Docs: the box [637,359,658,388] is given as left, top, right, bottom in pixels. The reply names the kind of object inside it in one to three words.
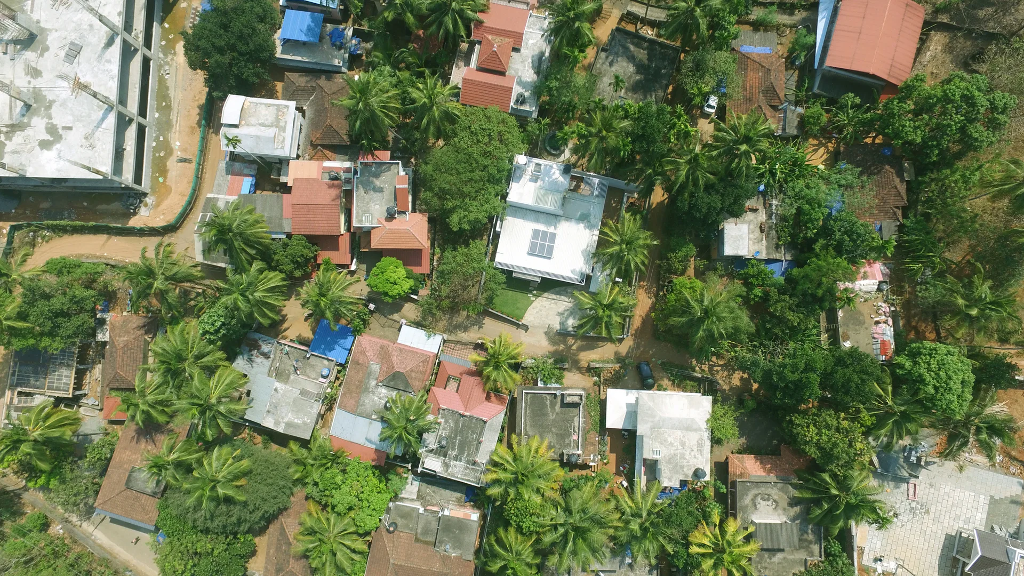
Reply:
car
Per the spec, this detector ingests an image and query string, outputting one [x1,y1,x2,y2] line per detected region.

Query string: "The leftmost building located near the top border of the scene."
[0,0,166,195]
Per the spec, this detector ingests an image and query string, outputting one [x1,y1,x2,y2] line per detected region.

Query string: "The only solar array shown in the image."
[529,229,556,258]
